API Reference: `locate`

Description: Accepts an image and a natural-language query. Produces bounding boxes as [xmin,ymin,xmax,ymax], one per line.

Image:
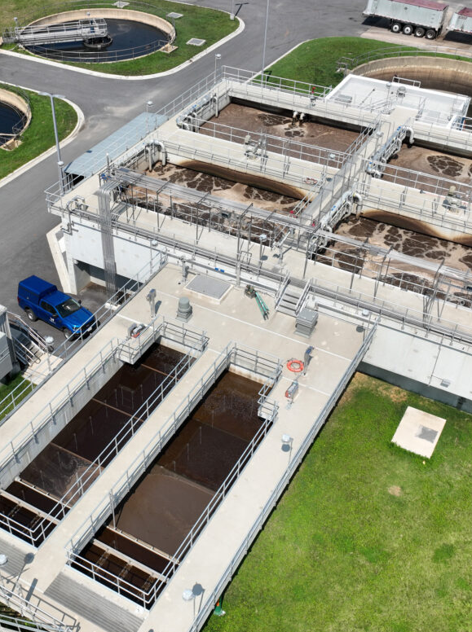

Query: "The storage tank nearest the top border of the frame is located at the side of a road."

[16,8,173,65]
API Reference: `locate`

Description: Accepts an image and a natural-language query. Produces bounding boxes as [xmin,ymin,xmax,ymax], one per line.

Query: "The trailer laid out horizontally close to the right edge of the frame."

[362,0,450,40]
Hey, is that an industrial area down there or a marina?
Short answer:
industrial area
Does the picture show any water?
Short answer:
Yes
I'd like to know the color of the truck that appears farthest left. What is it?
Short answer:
blue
